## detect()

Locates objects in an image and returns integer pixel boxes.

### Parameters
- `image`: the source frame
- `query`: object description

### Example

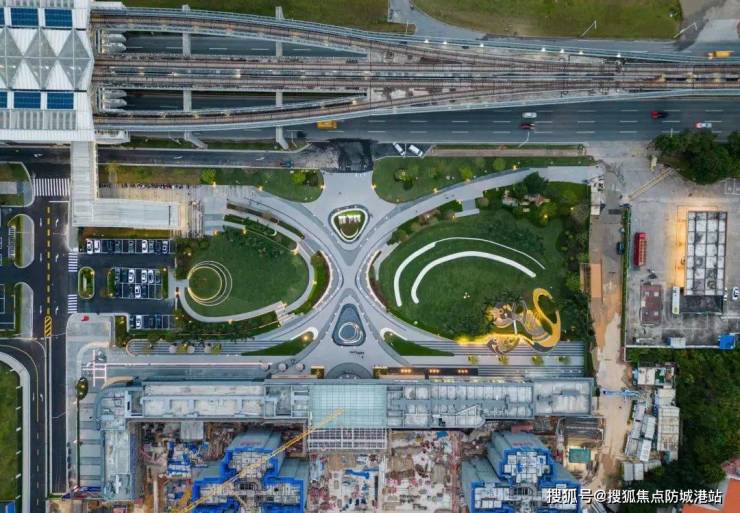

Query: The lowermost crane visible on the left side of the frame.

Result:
[166,408,344,513]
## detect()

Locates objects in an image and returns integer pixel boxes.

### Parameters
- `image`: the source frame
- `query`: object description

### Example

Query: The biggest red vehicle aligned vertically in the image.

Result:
[631,233,644,267]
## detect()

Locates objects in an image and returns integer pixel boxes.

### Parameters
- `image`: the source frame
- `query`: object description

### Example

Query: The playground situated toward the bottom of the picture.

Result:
[454,288,561,354]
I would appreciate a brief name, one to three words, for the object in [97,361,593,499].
building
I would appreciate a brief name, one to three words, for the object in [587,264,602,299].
shed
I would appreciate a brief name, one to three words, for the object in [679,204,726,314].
building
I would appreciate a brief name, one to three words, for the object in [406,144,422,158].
vehicle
